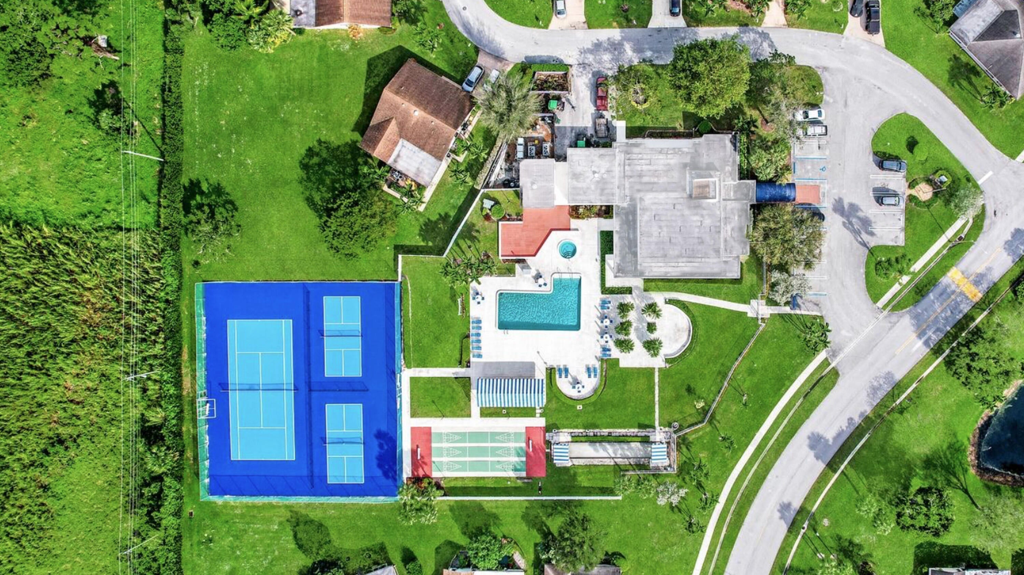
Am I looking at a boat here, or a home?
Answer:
home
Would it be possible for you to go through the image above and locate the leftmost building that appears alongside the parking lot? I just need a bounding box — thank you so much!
[520,121,756,279]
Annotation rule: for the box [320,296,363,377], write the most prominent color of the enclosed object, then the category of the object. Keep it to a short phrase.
blue sports court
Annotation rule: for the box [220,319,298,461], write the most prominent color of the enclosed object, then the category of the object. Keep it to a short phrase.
blue tennis court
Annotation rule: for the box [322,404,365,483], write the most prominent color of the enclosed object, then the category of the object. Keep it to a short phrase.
blue sports court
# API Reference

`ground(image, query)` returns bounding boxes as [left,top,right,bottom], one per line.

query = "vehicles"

[848,0,865,19]
[877,159,907,173]
[596,76,610,111]
[482,65,502,93]
[797,124,828,138]
[463,64,484,93]
[877,194,904,207]
[865,0,882,35]
[554,0,566,19]
[794,109,825,122]
[668,0,681,17]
